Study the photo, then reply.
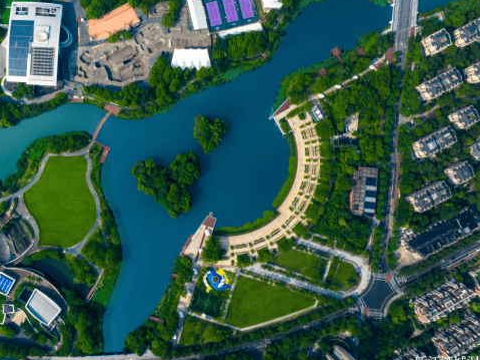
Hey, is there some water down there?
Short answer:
Yes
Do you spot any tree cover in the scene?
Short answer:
Yes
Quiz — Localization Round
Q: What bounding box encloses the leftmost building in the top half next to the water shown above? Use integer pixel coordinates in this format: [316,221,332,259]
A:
[1,2,74,93]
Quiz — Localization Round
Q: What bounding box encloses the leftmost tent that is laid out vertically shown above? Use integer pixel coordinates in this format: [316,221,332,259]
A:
[187,0,209,32]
